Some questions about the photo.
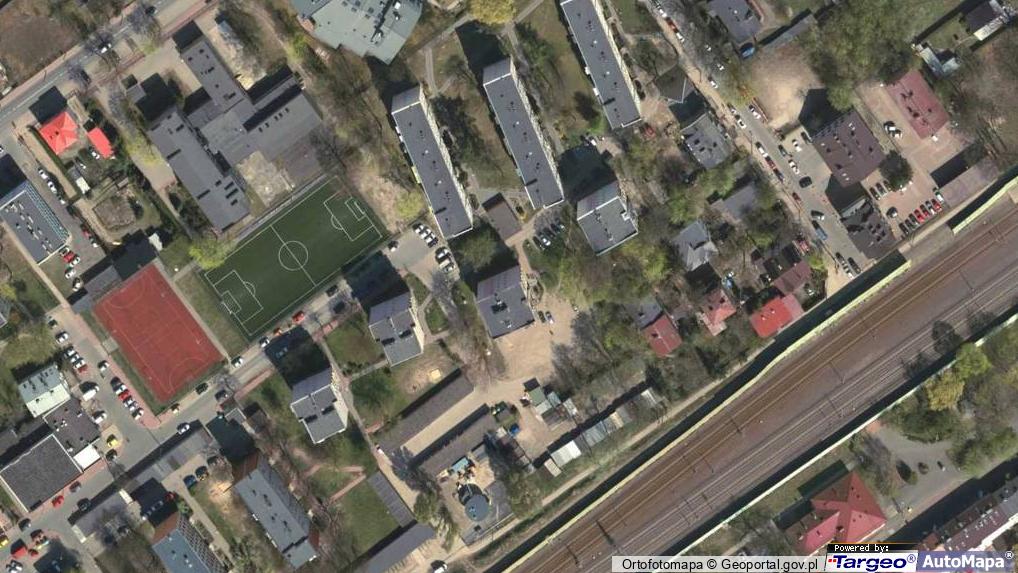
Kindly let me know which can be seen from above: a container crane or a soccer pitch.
soccer pitch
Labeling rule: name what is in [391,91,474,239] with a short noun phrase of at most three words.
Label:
building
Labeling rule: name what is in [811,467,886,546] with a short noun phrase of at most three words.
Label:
house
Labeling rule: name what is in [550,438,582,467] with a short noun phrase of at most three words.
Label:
shed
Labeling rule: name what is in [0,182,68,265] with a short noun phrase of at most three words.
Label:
building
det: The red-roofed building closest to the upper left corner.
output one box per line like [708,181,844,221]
[40,108,80,154]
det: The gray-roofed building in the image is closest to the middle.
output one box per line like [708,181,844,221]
[478,270,534,338]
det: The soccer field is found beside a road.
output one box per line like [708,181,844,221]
[200,172,389,343]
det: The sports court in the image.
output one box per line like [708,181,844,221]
[93,265,222,404]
